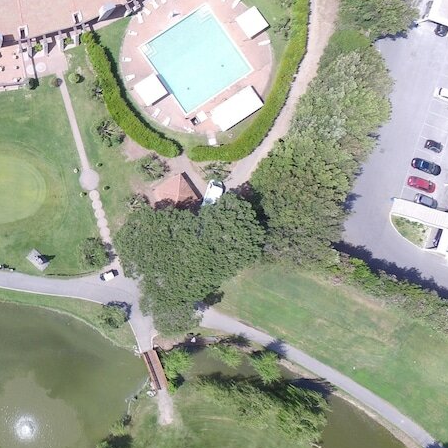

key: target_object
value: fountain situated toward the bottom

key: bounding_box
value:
[8,416,37,440]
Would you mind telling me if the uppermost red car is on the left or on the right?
right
